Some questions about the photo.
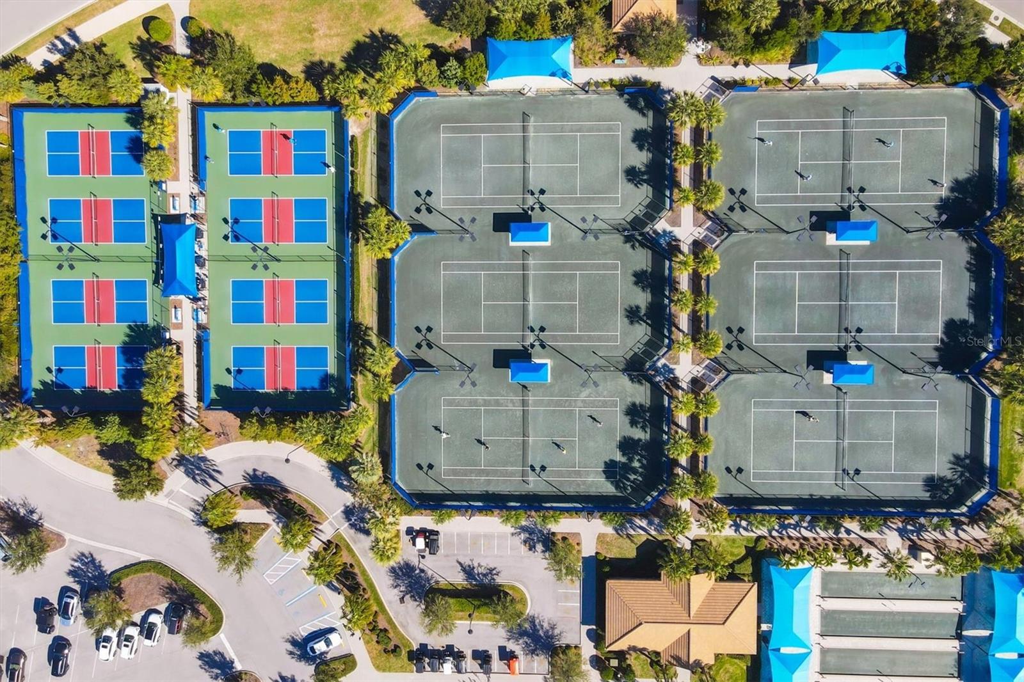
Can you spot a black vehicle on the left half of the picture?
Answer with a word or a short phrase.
Yes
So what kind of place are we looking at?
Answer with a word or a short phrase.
sports ground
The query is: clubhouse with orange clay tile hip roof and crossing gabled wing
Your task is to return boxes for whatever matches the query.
[605,567,759,671]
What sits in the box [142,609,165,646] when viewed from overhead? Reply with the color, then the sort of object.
white car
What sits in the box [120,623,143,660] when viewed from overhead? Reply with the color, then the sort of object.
white car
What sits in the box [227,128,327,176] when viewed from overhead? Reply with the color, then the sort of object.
blue sports court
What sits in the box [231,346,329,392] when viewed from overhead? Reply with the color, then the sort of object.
blue sports court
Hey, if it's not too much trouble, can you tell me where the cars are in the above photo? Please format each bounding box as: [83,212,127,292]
[142,609,165,646]
[58,590,81,626]
[164,599,186,635]
[34,601,59,634]
[4,650,28,682]
[120,623,143,660]
[50,638,74,675]
[98,625,121,662]
[0,533,14,567]
[307,629,343,655]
